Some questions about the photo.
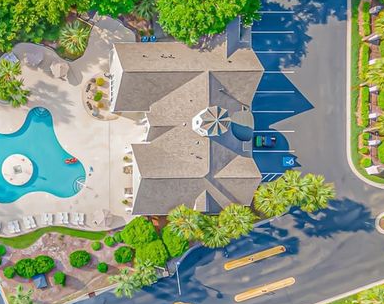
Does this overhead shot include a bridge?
No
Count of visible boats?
zero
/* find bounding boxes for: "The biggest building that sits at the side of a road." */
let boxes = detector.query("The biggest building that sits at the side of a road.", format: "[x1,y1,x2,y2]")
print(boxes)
[106,12,266,214]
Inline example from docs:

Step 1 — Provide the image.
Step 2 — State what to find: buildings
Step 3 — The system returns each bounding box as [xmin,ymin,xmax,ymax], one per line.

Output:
[106,12,266,214]
[33,274,47,288]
